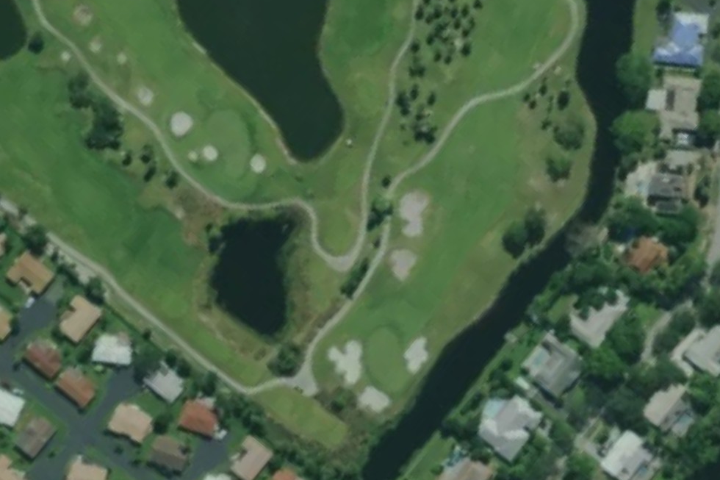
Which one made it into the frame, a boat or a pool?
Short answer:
pool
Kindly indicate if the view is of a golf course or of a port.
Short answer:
golf course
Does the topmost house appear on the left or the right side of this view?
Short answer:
right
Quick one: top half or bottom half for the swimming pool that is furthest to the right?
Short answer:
bottom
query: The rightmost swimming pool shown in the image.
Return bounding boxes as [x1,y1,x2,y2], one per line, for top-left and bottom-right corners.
[672,410,697,438]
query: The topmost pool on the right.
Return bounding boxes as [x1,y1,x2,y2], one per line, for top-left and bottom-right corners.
[625,163,657,196]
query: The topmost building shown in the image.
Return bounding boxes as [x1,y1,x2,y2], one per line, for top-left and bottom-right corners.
[655,13,710,68]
